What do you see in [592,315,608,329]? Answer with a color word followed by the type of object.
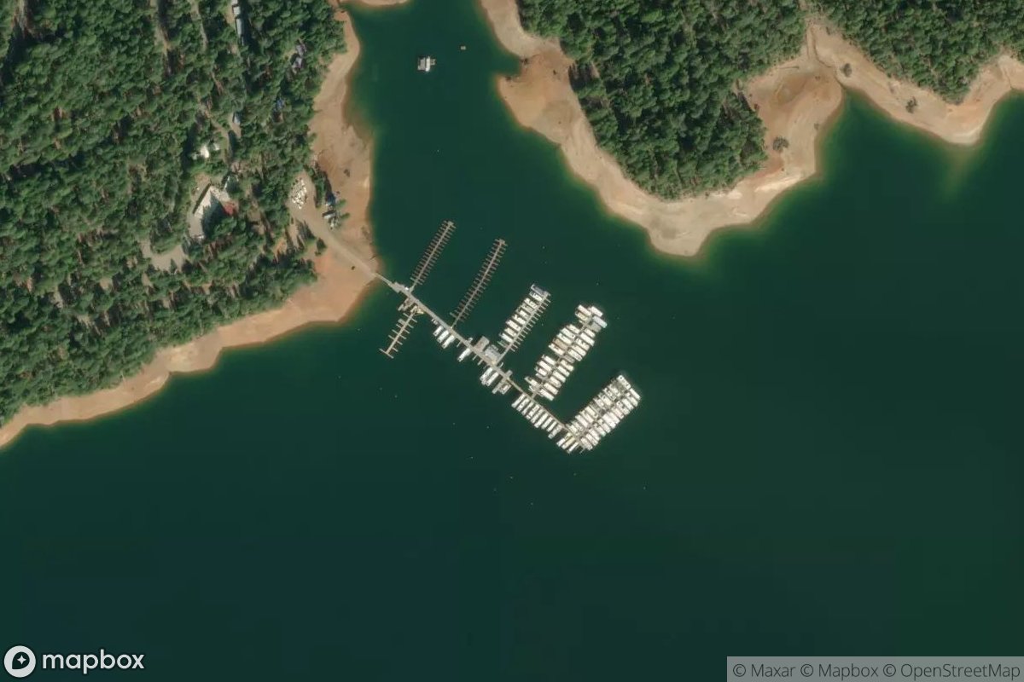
white boat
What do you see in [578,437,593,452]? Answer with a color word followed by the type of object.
white boat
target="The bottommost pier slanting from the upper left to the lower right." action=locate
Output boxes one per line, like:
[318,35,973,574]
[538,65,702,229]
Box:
[388,282,585,453]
